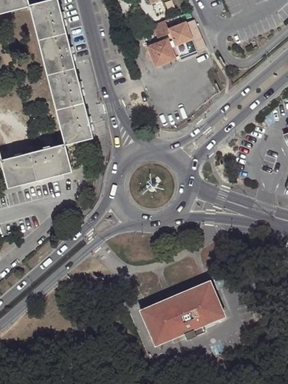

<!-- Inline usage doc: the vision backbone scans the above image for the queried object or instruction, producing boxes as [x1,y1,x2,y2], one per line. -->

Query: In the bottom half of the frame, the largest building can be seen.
[140,280,226,347]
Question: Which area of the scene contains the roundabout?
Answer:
center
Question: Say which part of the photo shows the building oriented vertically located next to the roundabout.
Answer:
top left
